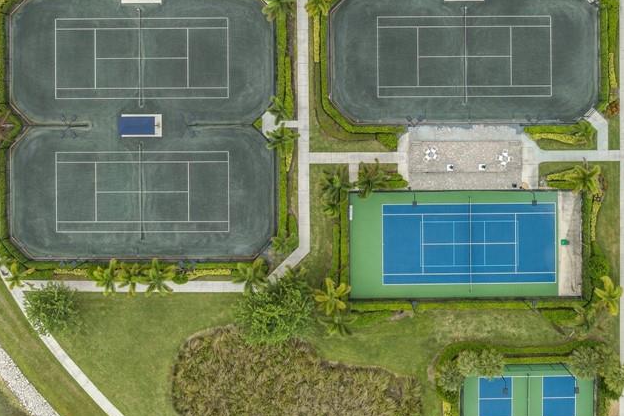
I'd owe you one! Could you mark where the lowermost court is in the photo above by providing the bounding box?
[461,363,594,416]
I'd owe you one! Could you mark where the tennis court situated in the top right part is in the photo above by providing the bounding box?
[331,0,598,123]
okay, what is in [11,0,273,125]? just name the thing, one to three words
tennis court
